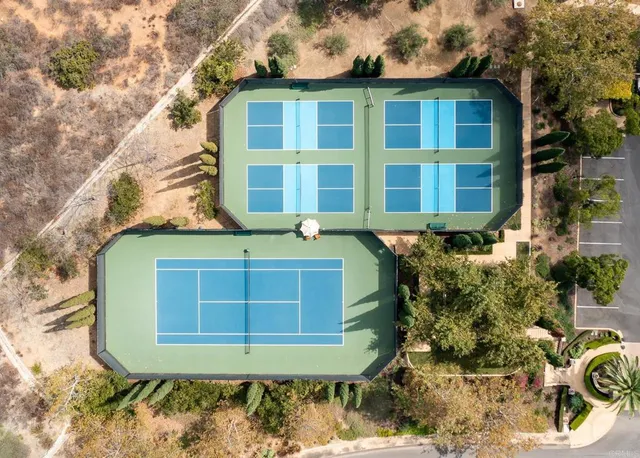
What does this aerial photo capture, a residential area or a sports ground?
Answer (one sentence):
It's a sports ground.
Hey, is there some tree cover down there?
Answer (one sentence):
Yes, tree cover can be seen from above here.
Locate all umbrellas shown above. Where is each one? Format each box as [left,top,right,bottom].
[300,217,319,237]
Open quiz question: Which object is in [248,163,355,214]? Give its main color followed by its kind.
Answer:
blue sports court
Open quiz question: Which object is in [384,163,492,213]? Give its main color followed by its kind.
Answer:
blue sports court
